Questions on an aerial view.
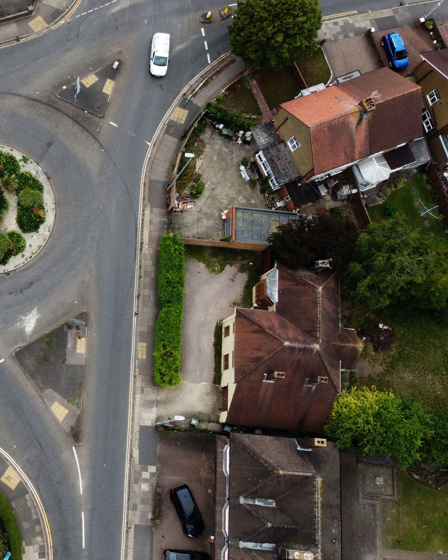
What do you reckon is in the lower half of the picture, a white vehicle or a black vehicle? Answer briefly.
black vehicle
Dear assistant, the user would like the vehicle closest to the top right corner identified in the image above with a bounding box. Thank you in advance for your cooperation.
[382,33,409,70]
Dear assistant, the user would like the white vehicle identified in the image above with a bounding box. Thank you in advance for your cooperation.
[149,33,171,77]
